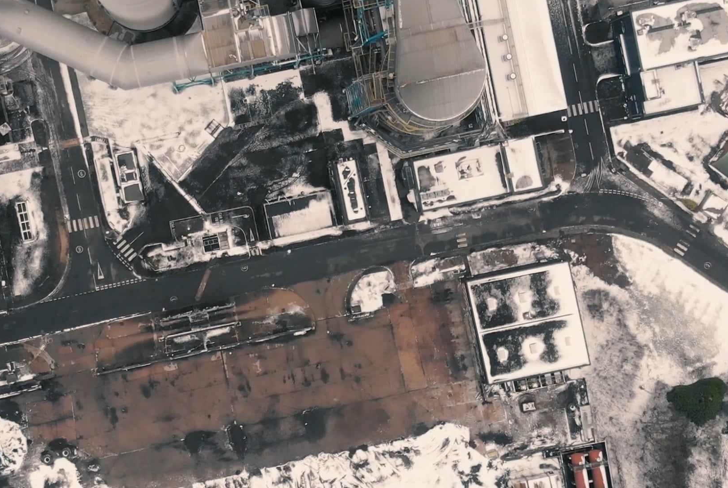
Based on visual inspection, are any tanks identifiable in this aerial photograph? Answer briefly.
Yes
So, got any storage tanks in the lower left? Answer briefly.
No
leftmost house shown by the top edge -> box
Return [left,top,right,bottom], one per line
[198,0,318,76]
